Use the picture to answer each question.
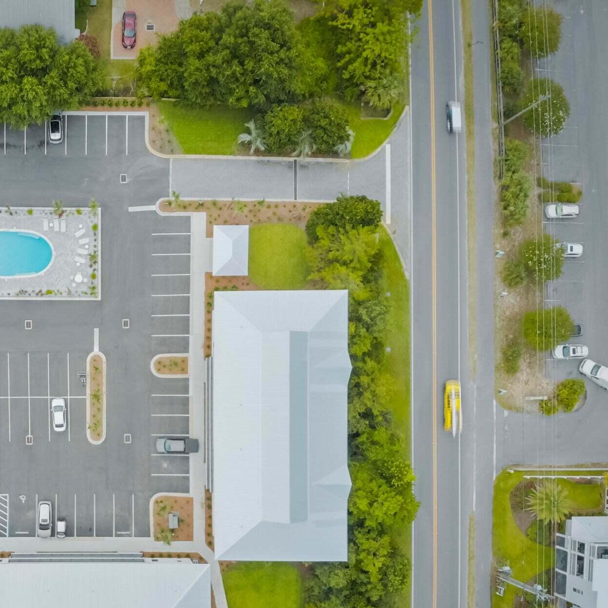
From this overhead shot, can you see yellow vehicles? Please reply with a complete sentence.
Yes, a yellow vehicle is visible in the scene.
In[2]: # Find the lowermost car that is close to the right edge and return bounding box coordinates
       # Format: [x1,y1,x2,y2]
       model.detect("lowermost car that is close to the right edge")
[576,361,608,391]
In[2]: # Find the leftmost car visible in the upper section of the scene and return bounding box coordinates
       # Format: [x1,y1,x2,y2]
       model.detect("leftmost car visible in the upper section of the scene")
[47,112,63,145]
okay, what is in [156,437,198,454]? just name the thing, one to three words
vehicle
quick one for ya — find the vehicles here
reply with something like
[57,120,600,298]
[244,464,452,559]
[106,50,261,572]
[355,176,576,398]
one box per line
[121,10,137,49]
[51,397,67,432]
[576,361,608,391]
[442,380,467,434]
[550,241,587,257]
[37,500,53,539]
[552,343,590,359]
[543,201,582,220]
[156,437,198,454]
[566,323,587,338]
[57,516,66,537]
[443,98,465,136]
[47,112,63,145]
